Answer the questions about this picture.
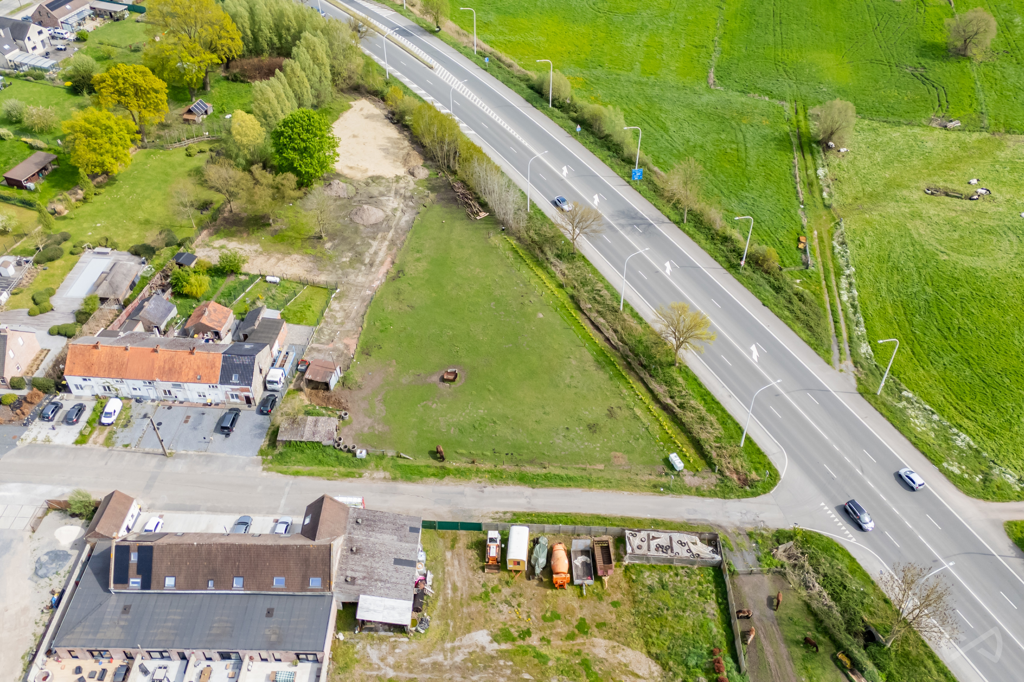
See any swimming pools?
Yes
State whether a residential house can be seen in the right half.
No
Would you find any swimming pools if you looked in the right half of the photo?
No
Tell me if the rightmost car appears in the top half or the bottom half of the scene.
bottom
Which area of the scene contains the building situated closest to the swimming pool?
left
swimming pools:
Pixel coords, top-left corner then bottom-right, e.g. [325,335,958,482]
[62,256,114,299]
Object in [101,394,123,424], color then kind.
white car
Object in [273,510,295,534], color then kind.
white car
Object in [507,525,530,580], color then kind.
white camper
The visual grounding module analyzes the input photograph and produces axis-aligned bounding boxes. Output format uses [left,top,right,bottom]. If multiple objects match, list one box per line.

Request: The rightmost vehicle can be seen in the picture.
[897,466,927,491]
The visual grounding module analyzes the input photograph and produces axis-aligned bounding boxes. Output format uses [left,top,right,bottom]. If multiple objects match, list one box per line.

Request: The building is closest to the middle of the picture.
[304,359,339,390]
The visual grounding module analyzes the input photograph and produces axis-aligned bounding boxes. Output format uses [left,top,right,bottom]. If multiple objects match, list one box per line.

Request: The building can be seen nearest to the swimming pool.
[95,261,138,308]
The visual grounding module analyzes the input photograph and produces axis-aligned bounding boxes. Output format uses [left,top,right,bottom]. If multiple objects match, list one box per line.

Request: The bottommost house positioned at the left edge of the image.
[50,528,342,663]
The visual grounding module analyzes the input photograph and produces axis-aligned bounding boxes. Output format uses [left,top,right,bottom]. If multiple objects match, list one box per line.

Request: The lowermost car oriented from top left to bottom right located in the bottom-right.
[842,497,875,531]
